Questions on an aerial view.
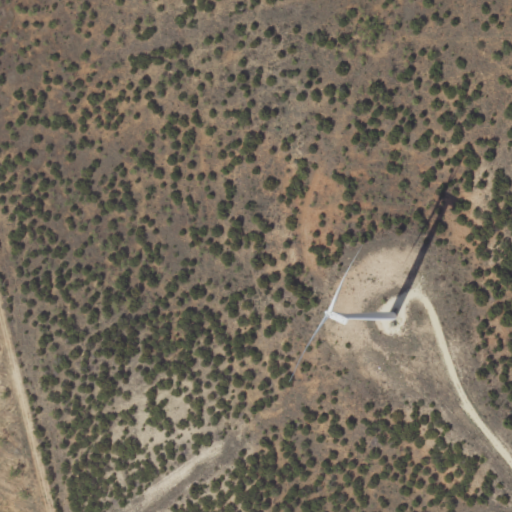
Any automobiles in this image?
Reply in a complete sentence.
No, there is no automobile in the image.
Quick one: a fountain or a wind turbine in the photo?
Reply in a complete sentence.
Looking from above, you can make out a wind turbine.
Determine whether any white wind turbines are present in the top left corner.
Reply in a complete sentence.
No, there's no white wind turbine to be seen in the top left corner.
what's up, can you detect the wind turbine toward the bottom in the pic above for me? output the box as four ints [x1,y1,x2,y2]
[292,248,403,379]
